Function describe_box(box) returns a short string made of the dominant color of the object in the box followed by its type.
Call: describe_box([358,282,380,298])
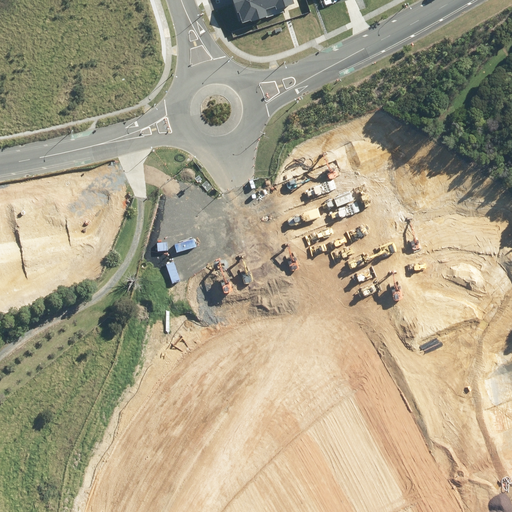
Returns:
white work vehicle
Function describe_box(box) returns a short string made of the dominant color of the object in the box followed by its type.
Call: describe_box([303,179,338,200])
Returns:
white vehicle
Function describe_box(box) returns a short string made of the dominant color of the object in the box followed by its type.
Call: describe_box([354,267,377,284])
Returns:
white work vehicle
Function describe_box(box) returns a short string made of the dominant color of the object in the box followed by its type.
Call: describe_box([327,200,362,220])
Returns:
white vehicle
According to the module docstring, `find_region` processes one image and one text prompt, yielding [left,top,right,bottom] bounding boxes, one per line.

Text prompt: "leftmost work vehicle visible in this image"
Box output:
[216,260,234,296]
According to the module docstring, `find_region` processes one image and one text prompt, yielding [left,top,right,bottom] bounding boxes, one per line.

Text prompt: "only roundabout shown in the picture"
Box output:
[190,84,243,137]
